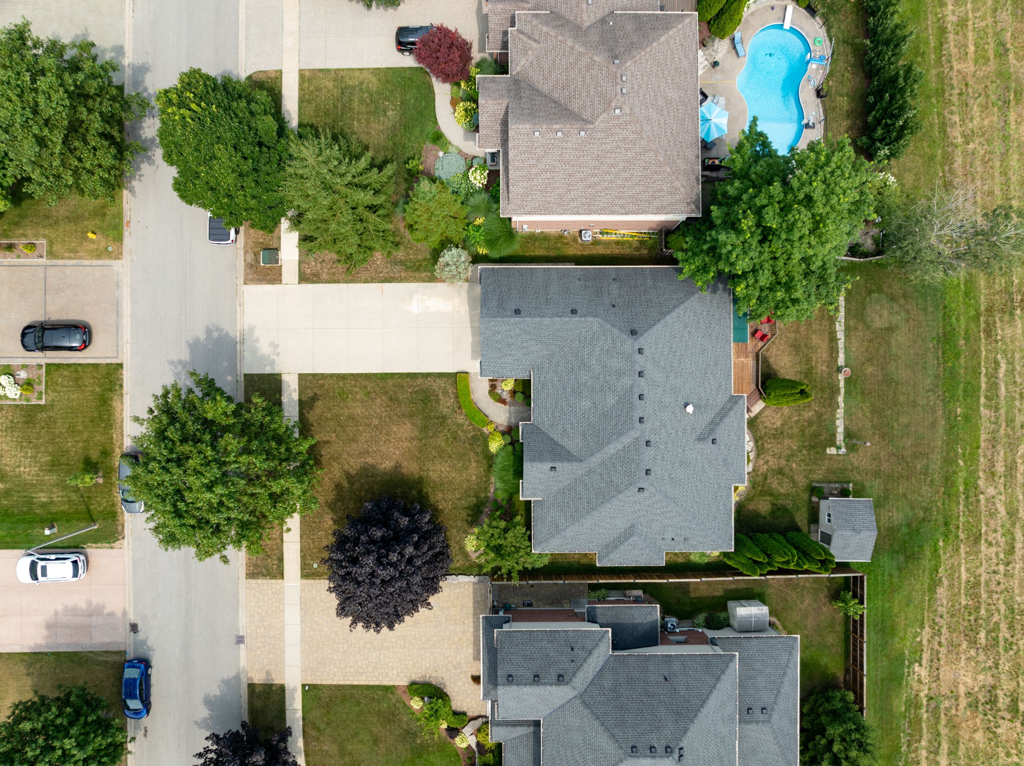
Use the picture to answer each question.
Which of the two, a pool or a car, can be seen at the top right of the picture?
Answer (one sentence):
You can see a pool at the top right of the picture.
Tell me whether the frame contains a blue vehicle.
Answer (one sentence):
Yes, the photo shows a blue vehicle.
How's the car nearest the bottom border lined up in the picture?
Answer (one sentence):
The car nearest the bottom border runs from top to bottom in the image.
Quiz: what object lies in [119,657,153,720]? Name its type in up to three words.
car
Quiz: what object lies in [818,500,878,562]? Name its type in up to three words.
shed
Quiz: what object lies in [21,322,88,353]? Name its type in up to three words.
car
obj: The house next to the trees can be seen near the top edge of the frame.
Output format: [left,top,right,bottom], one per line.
[476,0,702,232]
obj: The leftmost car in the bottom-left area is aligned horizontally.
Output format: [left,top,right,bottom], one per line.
[18,552,89,586]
